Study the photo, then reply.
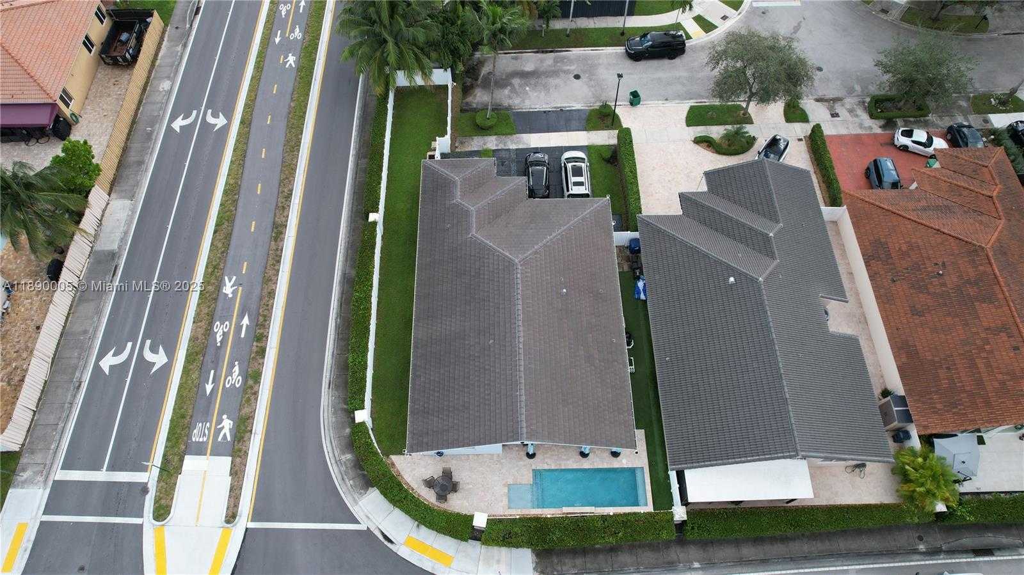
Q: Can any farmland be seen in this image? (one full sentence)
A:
No, there is no farmland in the image.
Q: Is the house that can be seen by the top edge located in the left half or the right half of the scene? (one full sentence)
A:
The house that can be seen by the top edge is on the left side of the image.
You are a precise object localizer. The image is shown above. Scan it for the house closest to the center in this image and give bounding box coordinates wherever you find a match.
[404,157,640,458]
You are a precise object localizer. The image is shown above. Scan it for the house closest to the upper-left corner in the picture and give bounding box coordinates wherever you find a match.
[0,0,113,134]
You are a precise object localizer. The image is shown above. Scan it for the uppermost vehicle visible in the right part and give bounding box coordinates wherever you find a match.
[625,30,686,62]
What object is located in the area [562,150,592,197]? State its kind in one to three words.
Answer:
car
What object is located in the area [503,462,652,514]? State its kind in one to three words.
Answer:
swimming pool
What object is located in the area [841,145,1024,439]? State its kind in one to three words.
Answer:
house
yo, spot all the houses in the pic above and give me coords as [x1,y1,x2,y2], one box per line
[636,160,896,470]
[404,157,640,458]
[841,145,1024,439]
[0,0,113,134]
